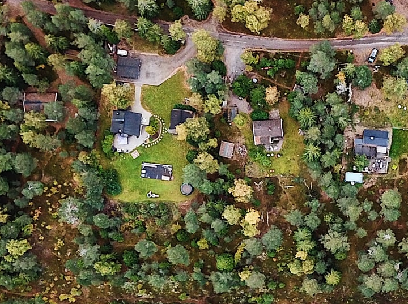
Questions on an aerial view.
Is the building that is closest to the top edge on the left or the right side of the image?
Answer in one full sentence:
The building that is closest to the top edge appears in the left half of the scene.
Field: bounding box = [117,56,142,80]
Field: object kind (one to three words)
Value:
building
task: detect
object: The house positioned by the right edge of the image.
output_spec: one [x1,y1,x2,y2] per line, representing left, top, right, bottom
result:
[356,129,390,158]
